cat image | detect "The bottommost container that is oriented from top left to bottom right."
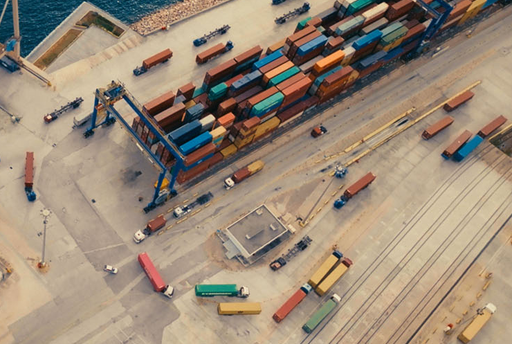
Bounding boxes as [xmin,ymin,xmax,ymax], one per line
[137,249,170,289]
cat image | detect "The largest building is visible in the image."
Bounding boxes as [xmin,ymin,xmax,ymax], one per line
[219,204,292,266]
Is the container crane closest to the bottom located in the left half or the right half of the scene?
left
